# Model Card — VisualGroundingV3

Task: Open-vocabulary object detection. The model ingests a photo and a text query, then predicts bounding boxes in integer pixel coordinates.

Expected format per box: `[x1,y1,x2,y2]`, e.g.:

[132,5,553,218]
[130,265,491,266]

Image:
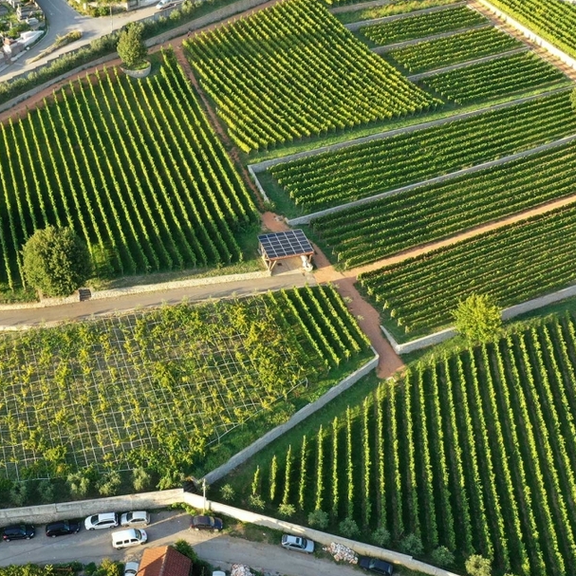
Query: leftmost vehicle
[1,523,34,542]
